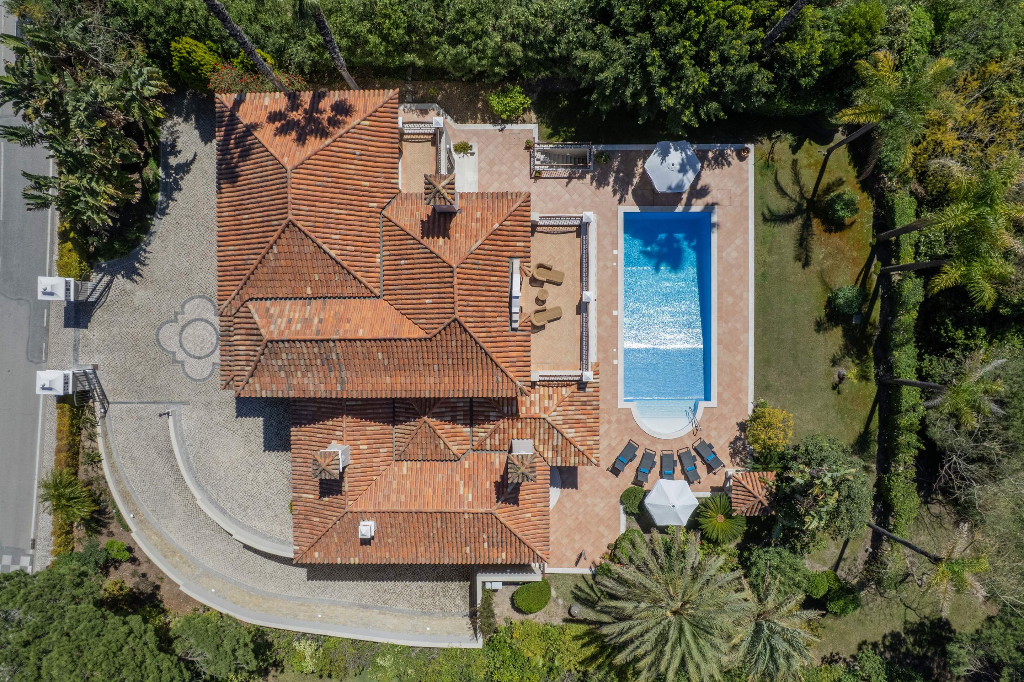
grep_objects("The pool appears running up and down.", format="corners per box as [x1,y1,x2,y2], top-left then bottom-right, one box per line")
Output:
[618,206,717,439]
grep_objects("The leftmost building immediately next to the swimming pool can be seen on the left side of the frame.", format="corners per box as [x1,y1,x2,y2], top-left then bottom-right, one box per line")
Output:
[211,85,603,567]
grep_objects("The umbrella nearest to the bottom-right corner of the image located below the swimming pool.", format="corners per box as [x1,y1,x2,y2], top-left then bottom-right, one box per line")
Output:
[642,477,698,527]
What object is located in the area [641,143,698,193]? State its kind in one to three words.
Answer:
umbrella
